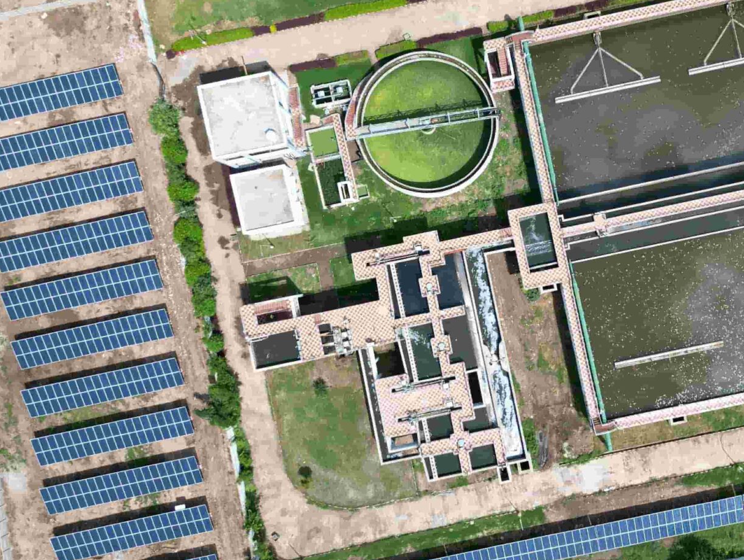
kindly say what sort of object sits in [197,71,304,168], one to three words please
building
